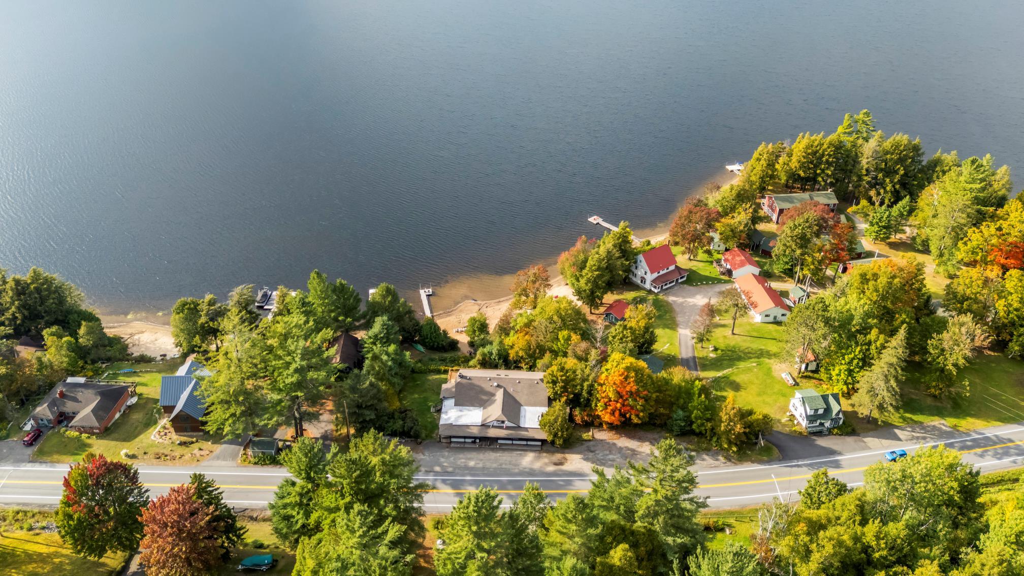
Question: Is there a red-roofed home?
Yes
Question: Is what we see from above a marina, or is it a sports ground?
marina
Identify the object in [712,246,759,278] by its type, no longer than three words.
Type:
building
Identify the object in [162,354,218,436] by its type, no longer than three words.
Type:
house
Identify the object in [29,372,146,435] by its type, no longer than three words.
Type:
house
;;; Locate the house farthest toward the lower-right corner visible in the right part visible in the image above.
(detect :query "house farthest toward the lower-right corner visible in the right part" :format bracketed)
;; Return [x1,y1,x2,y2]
[796,389,844,434]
